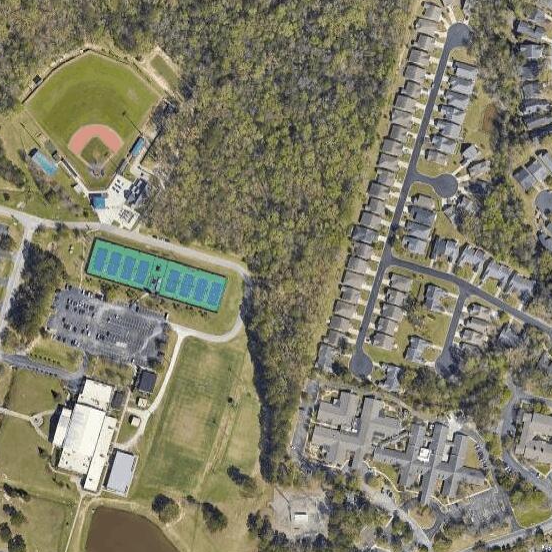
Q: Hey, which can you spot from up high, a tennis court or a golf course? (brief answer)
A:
tennis court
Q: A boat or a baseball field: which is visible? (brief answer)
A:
baseball field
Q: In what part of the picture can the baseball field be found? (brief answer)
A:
top left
